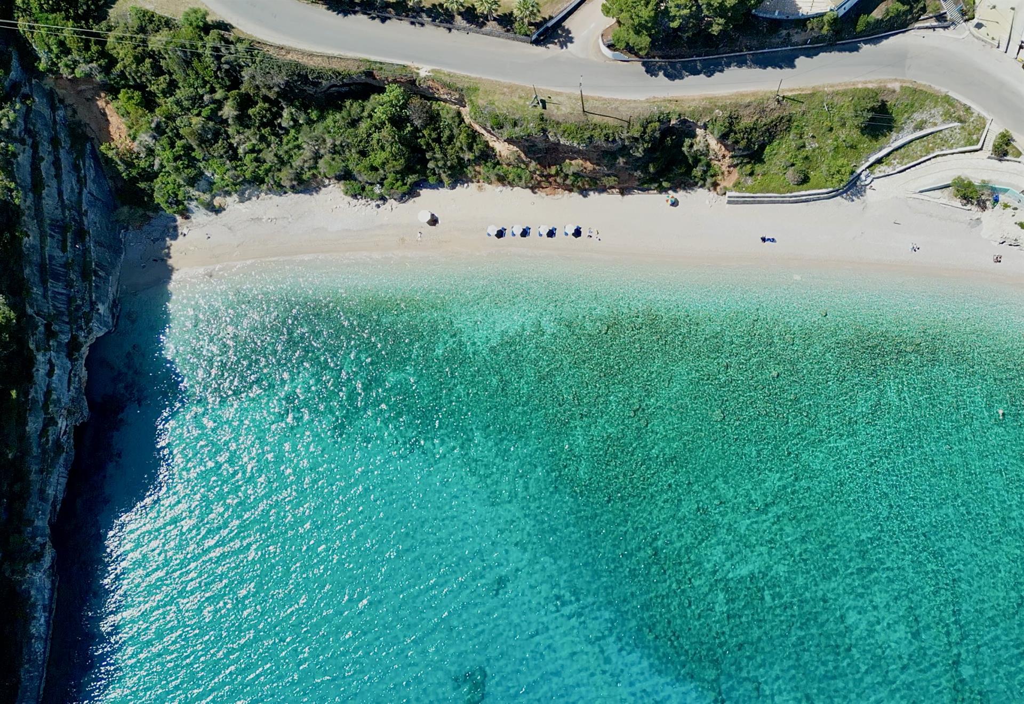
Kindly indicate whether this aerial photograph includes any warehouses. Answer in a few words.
No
